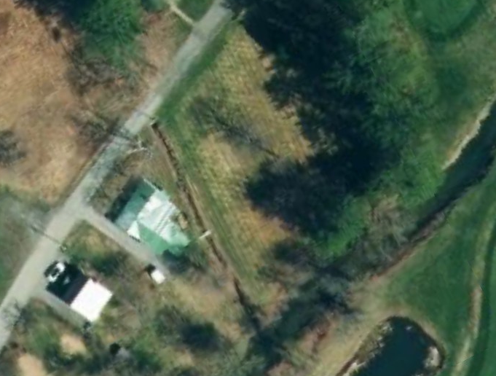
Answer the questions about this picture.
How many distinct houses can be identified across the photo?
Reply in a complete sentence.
The picture shows 2 houses.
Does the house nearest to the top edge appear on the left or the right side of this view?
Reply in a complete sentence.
The house nearest to the top edge appears in the left half of the scene.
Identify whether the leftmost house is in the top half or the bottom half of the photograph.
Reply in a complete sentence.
The leftmost house sits in the bottom half of the picture.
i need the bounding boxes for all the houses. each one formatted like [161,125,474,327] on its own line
[113,180,189,255]
[56,270,110,322]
